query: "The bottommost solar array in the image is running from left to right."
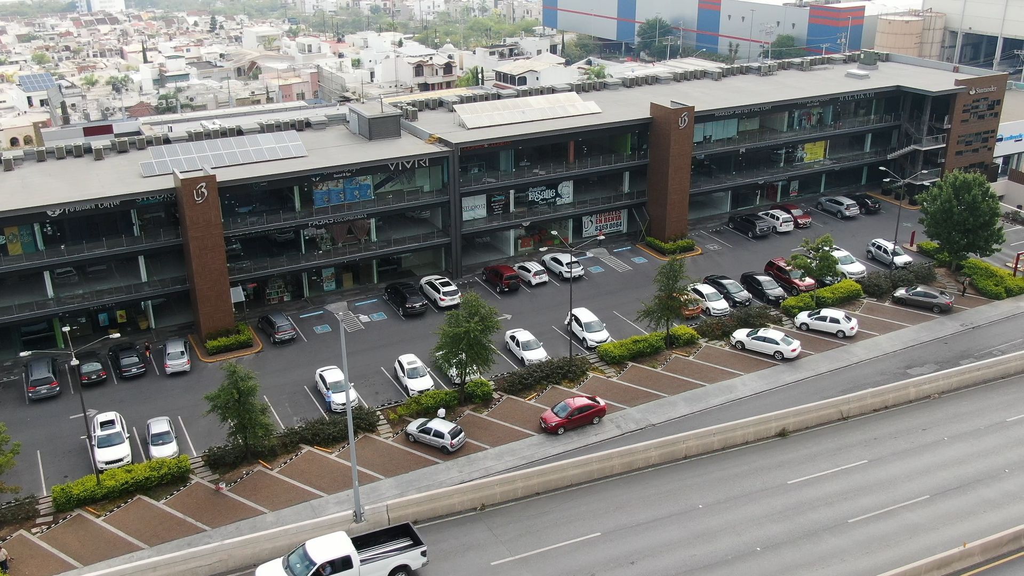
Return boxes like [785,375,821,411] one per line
[142,128,308,178]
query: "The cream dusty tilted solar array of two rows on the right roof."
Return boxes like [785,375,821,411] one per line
[434,92,602,131]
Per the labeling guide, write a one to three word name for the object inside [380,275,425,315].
car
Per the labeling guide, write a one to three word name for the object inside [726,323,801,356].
car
